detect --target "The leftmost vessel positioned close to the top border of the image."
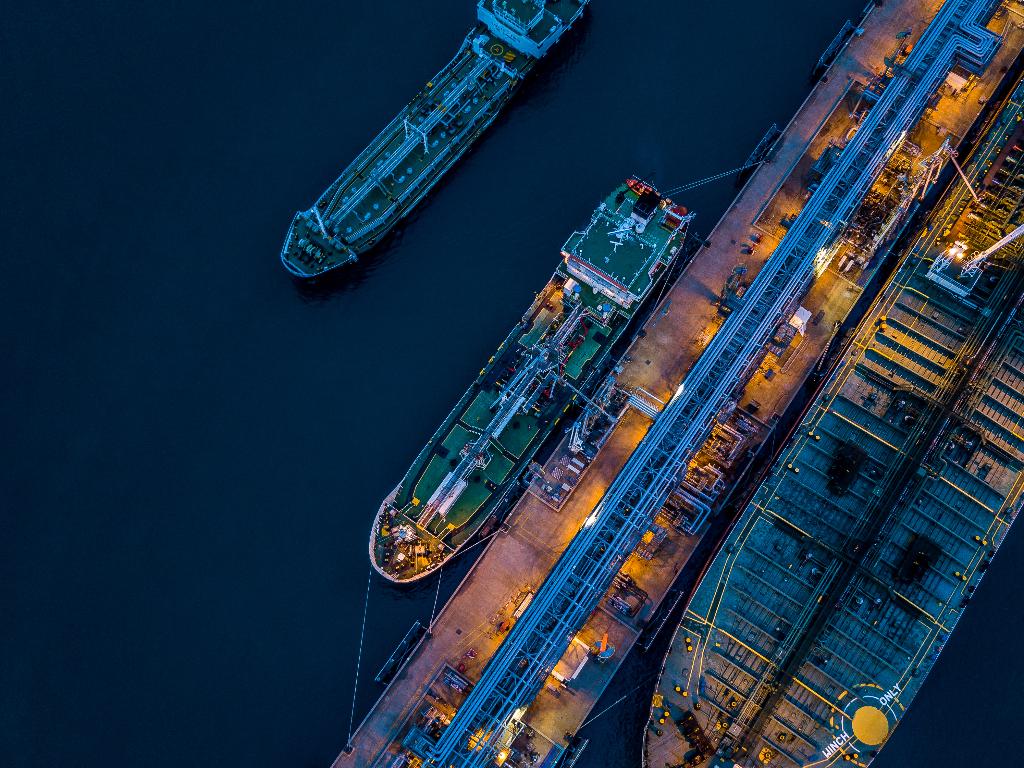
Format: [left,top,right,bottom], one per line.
[283,0,598,283]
